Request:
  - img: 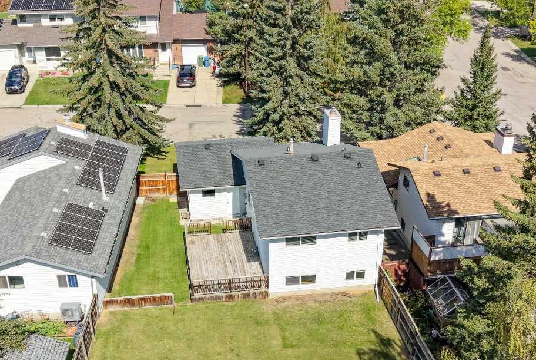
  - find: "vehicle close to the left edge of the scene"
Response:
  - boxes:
[6,65,40,90]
